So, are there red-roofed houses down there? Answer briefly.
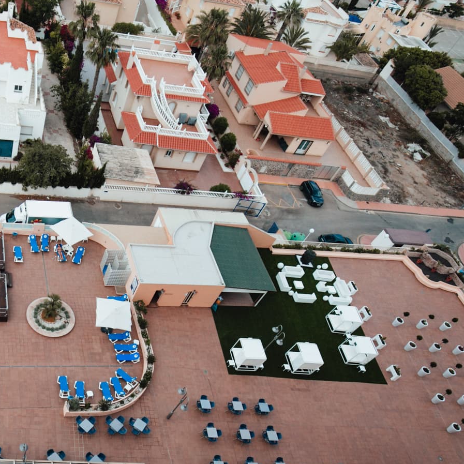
Yes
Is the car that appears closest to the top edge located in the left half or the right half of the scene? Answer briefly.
right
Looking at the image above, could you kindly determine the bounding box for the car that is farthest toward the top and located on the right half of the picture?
[299,178,324,207]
